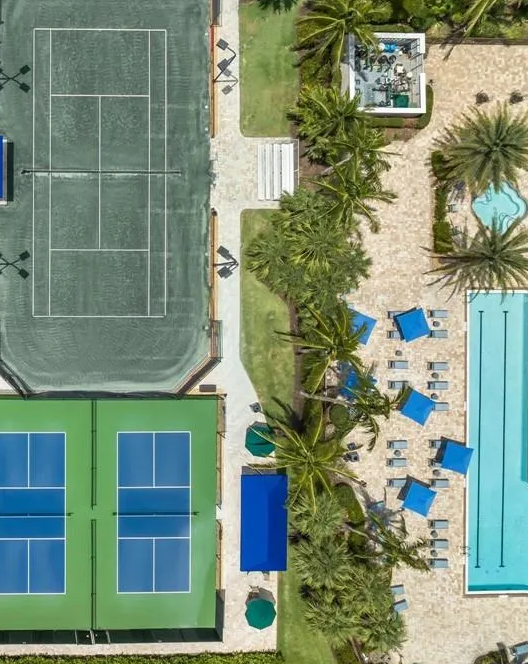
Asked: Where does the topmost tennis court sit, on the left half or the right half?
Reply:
left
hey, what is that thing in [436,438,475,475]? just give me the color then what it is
blue umbrella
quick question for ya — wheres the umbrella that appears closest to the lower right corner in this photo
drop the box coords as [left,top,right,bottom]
[399,479,438,518]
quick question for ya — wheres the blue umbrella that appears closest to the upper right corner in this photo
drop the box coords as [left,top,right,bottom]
[393,307,430,343]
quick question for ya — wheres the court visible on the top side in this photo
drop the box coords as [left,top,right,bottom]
[0,0,216,392]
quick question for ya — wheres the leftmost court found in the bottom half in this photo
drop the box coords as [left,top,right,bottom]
[0,397,92,630]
